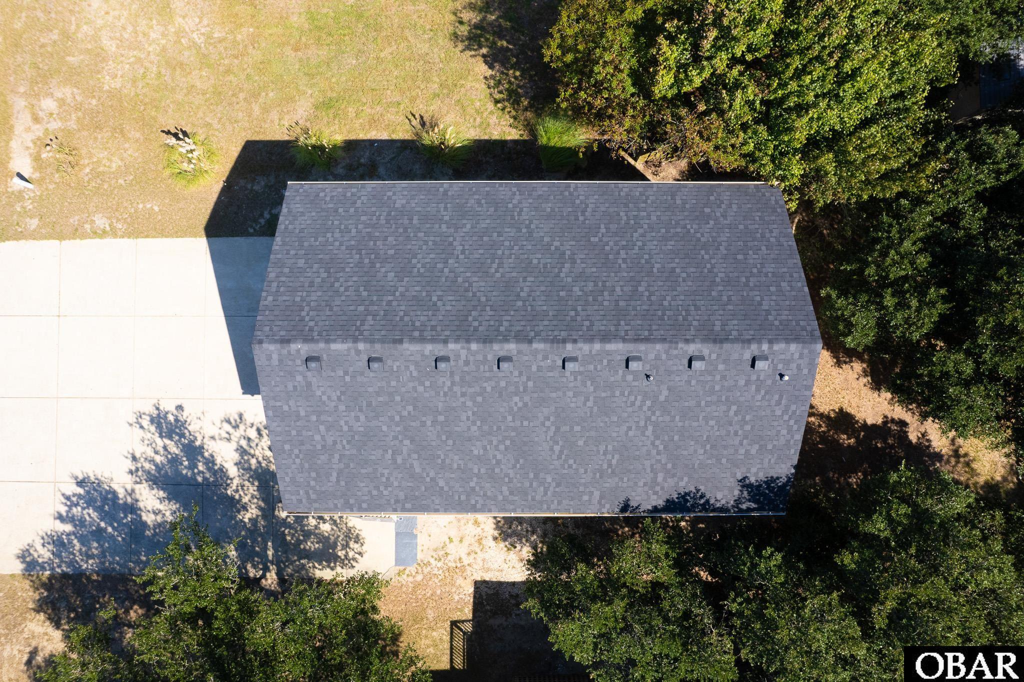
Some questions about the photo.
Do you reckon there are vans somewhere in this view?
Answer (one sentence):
No, there appears to be no van in this shot.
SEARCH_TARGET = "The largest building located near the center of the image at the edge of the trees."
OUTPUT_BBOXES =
[253,180,822,516]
